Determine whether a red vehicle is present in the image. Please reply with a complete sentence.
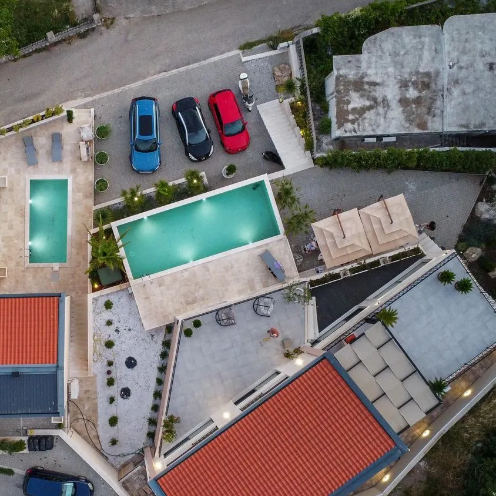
Yes, a red vehicle is visible in the scene.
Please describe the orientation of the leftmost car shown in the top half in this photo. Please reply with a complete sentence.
The leftmost car shown in the top half is oriented vertically.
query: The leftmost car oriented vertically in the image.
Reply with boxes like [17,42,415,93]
[127,96,163,174]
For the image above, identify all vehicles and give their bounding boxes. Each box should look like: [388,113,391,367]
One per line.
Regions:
[206,87,250,158]
[22,468,95,496]
[170,96,214,165]
[240,72,257,112]
[127,96,163,174]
